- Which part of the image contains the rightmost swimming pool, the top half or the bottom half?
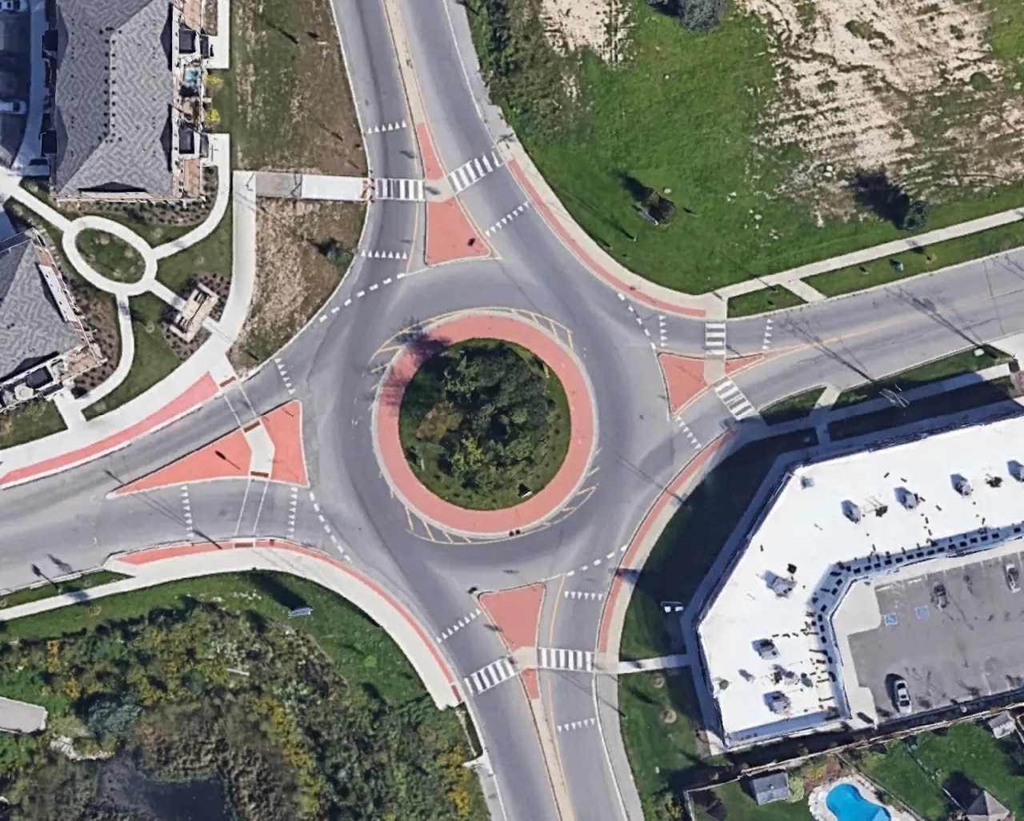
bottom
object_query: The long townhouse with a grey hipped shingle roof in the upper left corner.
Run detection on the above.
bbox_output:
[44,0,223,207]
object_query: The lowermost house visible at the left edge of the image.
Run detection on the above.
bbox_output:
[0,235,111,415]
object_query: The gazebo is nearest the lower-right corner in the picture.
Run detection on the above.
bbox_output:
[961,787,1011,821]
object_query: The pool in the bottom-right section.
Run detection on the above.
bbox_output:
[810,774,907,821]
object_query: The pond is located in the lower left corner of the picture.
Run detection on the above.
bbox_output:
[130,775,234,821]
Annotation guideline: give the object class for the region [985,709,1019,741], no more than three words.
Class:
shed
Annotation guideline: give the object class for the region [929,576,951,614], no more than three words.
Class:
car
